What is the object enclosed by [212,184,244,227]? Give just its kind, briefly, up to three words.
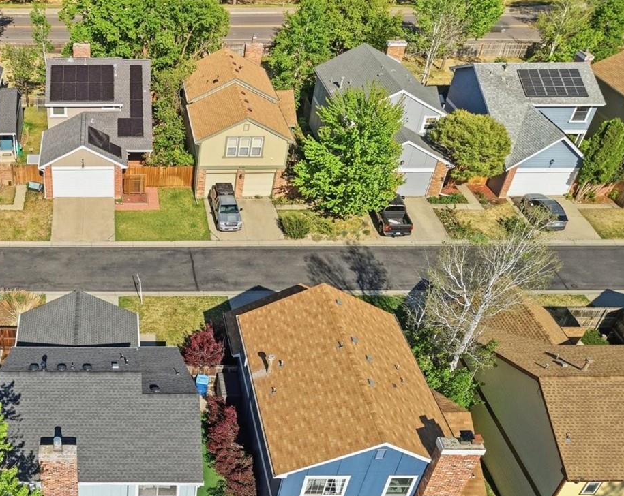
truck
